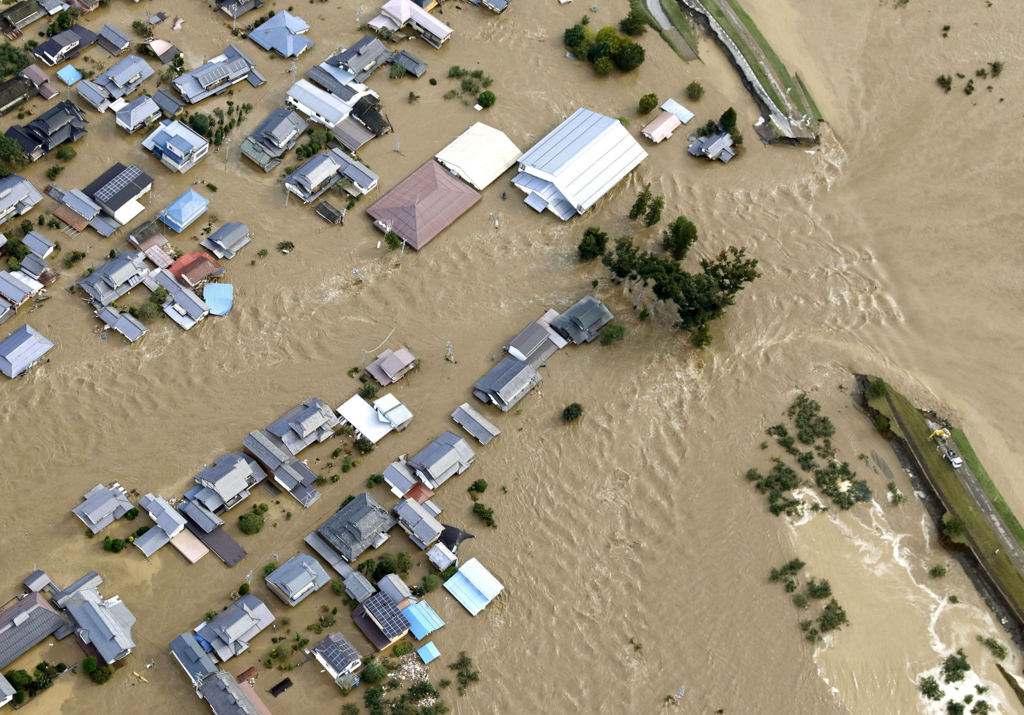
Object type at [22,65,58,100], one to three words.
shed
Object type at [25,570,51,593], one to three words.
building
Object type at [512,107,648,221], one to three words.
warehouse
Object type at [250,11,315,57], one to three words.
house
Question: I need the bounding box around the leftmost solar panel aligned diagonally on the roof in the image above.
[99,171,140,204]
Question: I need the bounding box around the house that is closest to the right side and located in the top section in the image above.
[688,132,738,164]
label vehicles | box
[946,447,964,467]
[925,427,959,447]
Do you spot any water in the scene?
Yes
